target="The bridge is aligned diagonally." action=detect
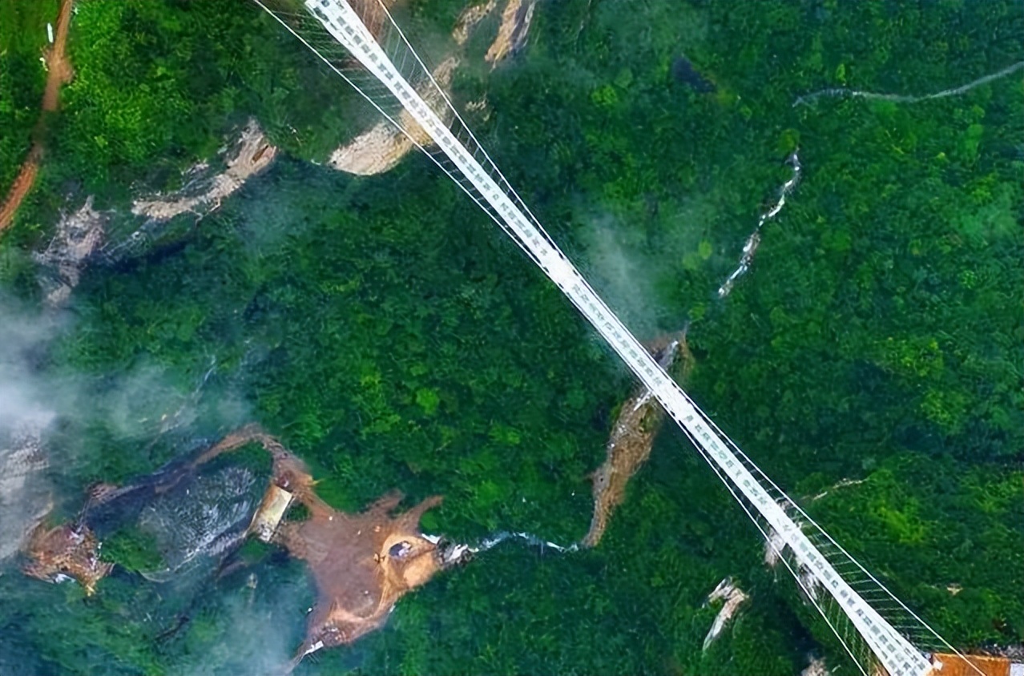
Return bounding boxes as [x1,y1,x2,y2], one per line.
[259,0,993,676]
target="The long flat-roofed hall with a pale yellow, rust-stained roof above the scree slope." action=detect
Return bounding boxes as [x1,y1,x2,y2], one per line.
[248,486,291,544]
